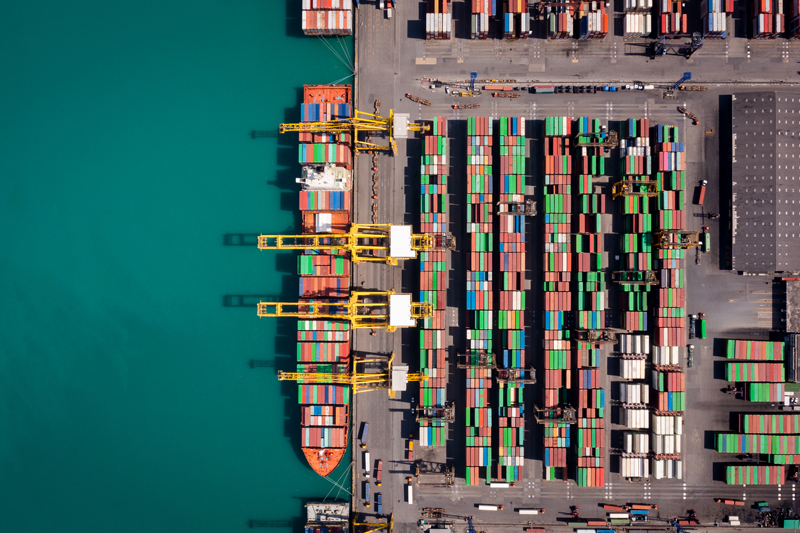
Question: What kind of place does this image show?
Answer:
port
